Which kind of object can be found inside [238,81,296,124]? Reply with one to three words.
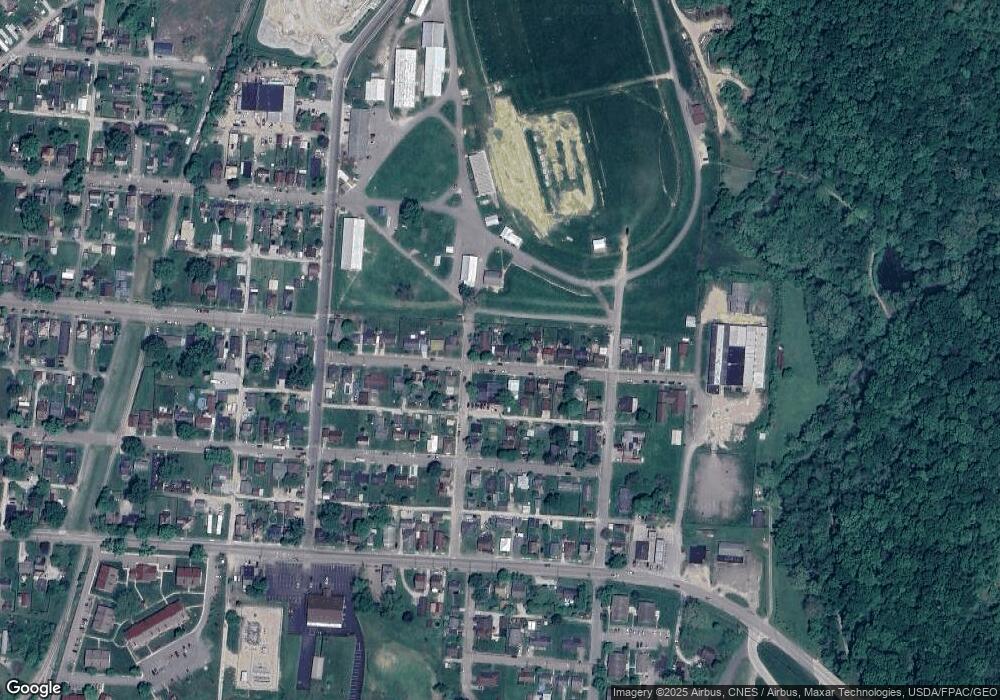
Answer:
building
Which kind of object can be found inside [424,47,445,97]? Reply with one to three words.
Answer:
barn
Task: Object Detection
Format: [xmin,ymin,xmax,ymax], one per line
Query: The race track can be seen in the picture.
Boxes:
[601,0,693,272]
